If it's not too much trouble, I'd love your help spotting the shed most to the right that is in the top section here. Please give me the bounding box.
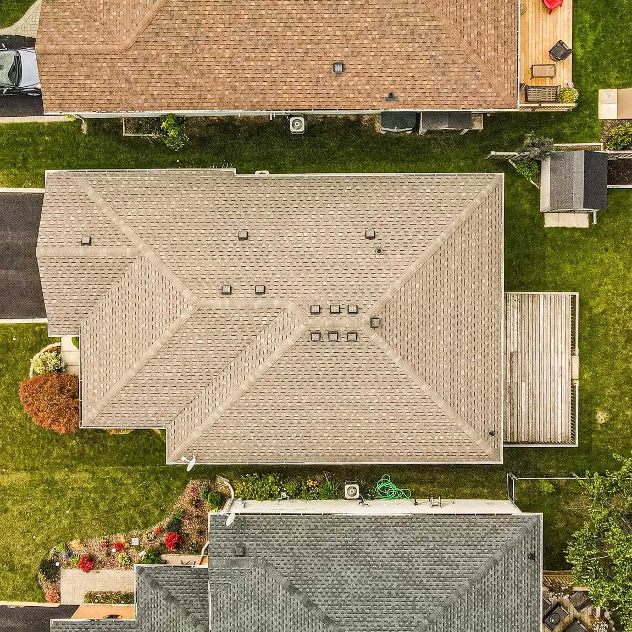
[541,150,608,224]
